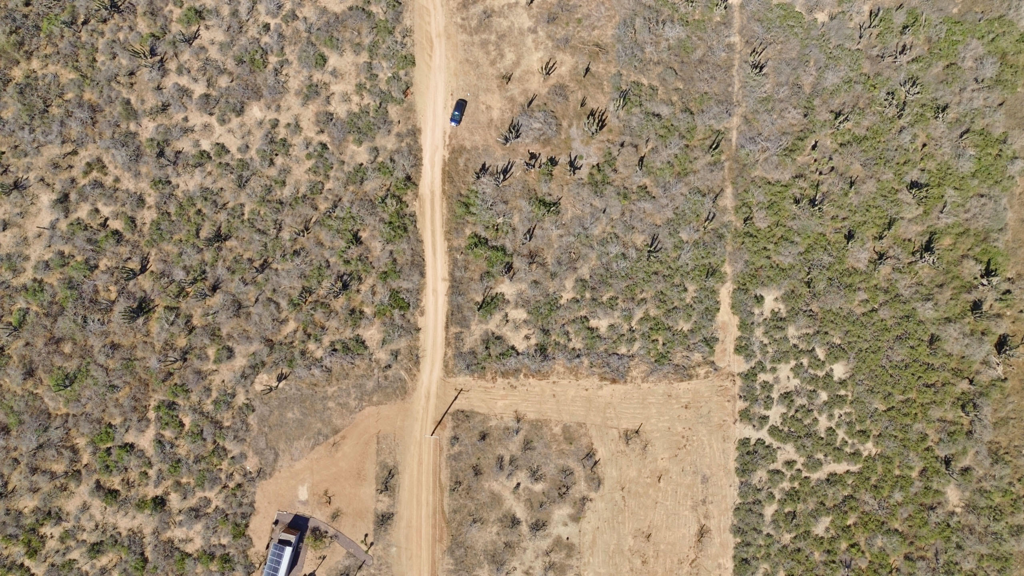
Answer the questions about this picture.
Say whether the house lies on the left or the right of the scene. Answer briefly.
left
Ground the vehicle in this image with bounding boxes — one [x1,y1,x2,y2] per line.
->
[448,98,466,126]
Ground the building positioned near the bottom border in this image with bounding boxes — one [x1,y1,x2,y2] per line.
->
[263,526,301,576]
